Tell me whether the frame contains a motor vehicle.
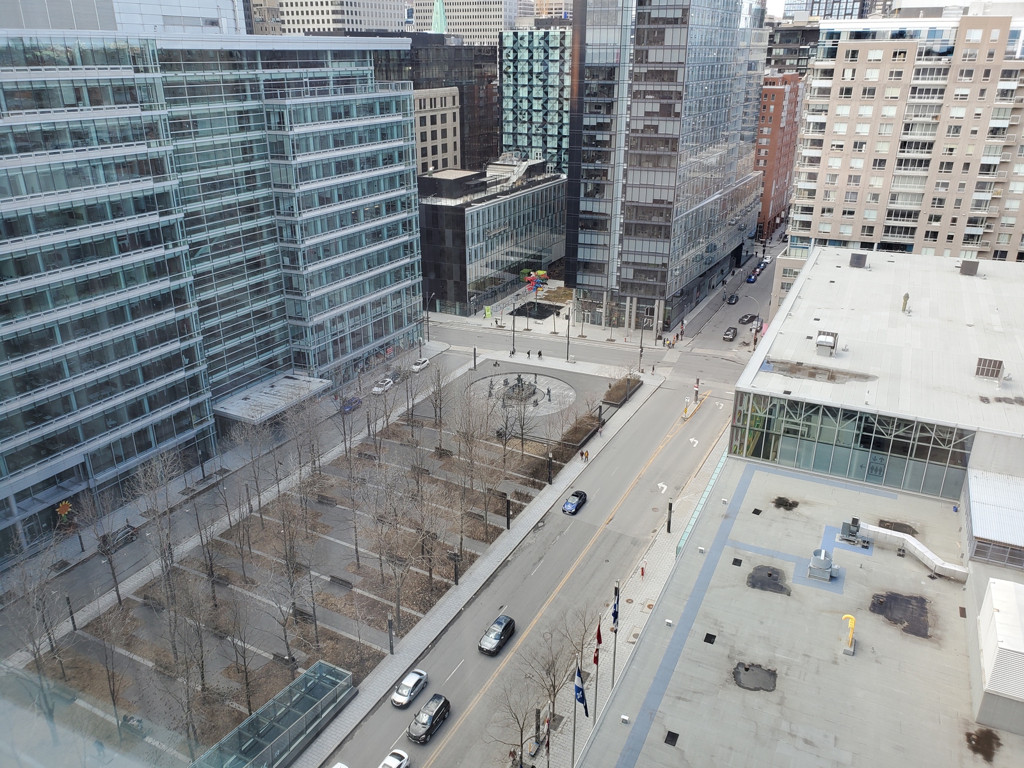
Yes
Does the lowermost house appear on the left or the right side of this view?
left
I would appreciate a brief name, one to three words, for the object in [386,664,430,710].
car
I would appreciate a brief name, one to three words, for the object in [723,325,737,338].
vehicle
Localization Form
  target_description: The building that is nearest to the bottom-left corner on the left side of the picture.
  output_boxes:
[201,657,360,768]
